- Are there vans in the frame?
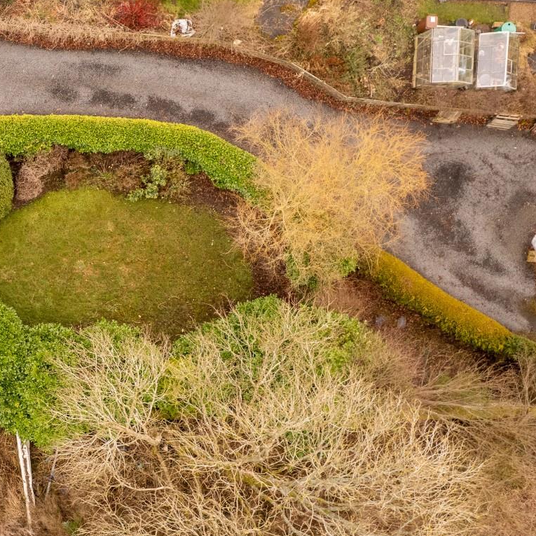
No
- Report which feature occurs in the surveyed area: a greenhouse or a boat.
greenhouse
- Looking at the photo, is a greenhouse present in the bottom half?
No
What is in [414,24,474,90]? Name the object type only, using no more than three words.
greenhouse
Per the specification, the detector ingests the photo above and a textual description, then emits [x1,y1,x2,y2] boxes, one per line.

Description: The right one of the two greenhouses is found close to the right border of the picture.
[463,29,519,93]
